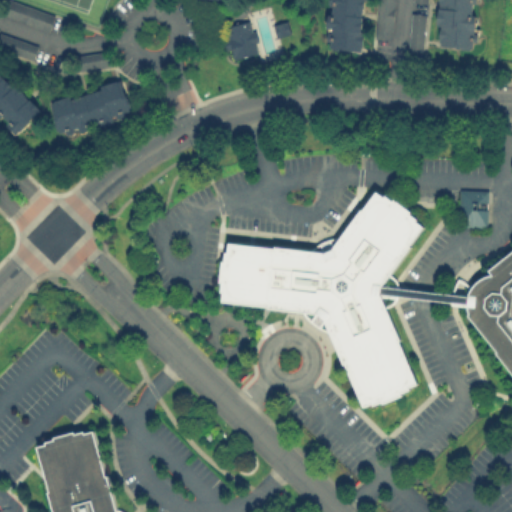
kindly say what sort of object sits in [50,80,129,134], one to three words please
building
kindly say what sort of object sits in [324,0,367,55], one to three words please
building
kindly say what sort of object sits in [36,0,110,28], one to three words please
tennis court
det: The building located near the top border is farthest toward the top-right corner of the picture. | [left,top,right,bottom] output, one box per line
[438,0,482,52]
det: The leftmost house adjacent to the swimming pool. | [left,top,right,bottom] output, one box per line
[226,22,260,62]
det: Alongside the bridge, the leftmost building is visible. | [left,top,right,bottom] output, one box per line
[220,193,424,408]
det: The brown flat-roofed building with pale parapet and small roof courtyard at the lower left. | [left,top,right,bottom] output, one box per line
[36,431,117,512]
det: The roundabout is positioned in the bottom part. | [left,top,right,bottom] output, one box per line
[258,326,324,391]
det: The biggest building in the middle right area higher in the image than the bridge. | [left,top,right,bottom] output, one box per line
[460,190,490,228]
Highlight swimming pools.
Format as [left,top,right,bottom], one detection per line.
[253,8,282,59]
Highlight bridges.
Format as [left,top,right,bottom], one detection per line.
[384,288,477,310]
